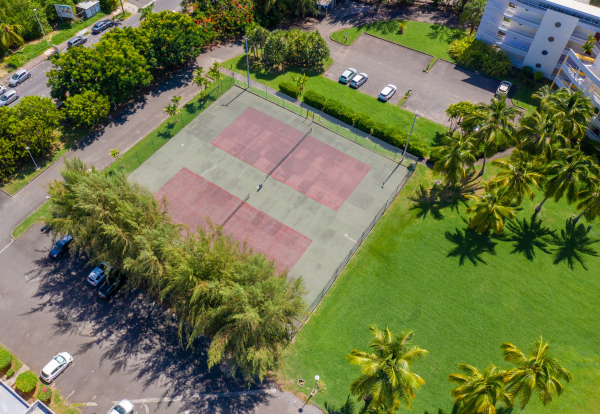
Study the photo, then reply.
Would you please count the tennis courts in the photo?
2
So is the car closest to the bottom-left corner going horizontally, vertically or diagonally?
diagonally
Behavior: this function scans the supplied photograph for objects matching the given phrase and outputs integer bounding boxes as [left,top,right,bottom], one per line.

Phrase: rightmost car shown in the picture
[496,80,513,95]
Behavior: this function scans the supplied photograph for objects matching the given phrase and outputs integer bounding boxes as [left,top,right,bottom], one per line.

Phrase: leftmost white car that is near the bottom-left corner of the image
[36,347,74,382]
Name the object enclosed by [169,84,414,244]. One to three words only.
tennis court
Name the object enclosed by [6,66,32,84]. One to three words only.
car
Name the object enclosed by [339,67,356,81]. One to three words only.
car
